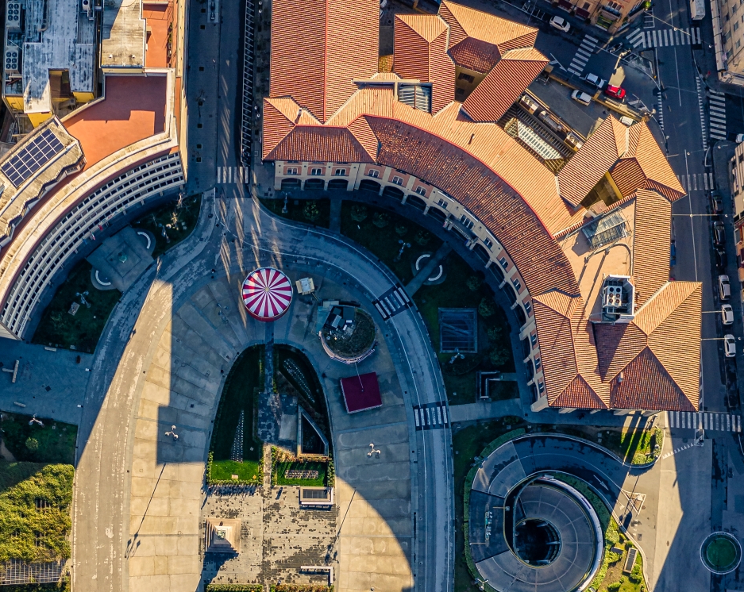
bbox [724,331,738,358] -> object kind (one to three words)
vehicle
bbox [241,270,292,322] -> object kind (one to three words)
tent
